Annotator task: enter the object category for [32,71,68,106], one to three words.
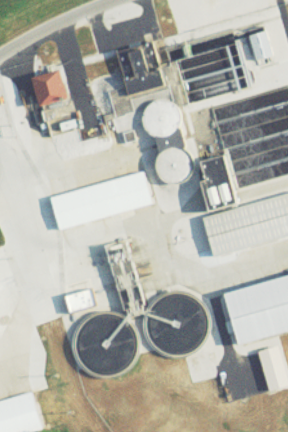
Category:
house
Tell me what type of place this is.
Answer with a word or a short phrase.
industrial area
